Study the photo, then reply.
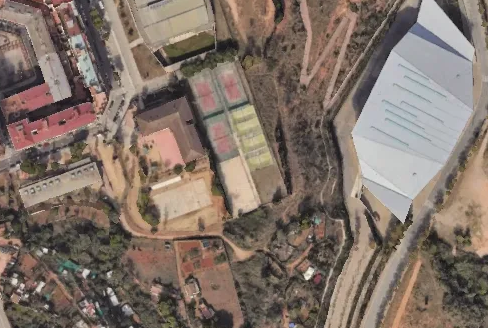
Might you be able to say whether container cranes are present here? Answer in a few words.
No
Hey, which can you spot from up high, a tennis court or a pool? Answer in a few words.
tennis court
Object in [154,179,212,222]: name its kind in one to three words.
sports court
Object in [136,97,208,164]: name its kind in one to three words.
building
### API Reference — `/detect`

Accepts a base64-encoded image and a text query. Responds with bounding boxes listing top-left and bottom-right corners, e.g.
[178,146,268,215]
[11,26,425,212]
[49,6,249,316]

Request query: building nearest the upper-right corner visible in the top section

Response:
[352,0,474,222]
